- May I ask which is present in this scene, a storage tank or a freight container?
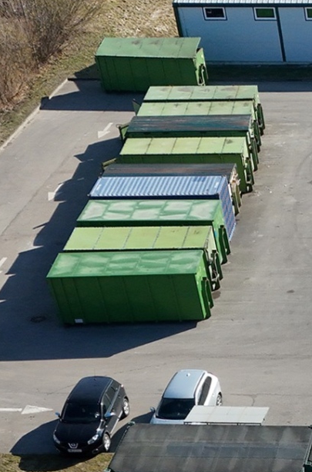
freight container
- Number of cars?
two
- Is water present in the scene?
No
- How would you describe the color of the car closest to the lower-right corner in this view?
white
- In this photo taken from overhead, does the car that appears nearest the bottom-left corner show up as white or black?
black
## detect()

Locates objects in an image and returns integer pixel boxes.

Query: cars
[51,369,130,457]
[147,366,217,426]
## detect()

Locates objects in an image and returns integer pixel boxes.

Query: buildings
[103,410,312,472]
[171,0,312,61]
